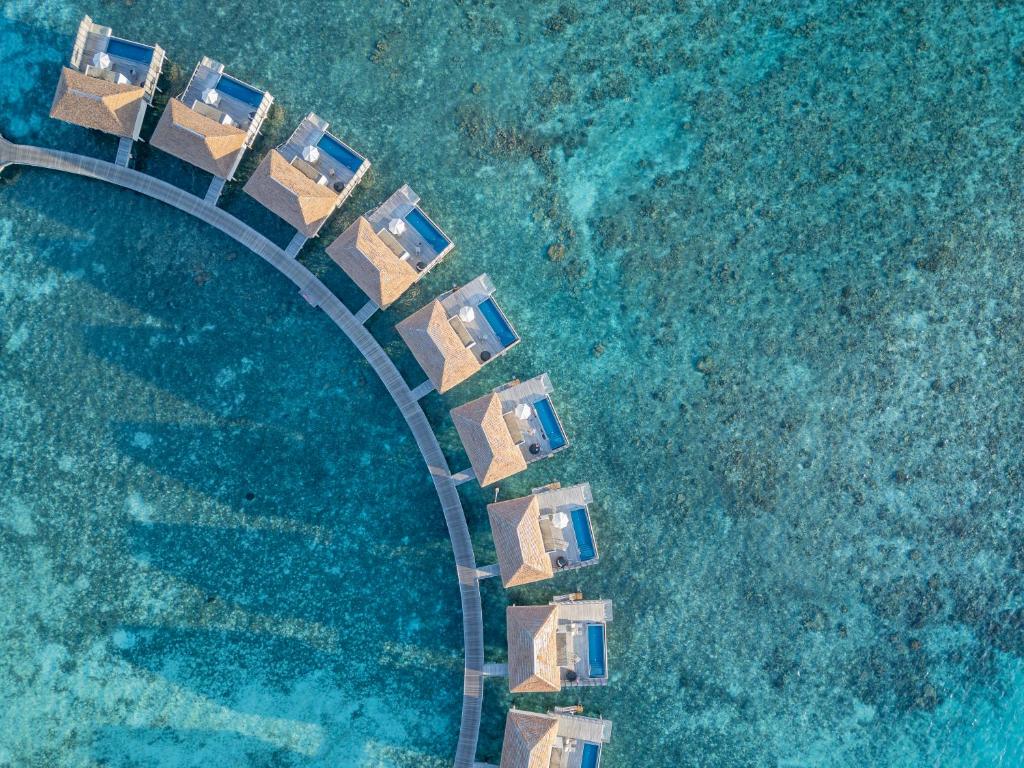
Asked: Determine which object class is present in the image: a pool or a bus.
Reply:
pool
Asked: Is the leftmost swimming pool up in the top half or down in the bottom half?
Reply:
top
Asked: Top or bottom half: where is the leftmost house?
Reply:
top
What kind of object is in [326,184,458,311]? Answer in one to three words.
house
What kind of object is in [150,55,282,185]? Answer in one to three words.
house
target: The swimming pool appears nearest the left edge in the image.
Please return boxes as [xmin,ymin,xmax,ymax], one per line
[105,37,165,66]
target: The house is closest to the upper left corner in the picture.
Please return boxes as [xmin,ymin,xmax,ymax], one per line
[51,12,177,146]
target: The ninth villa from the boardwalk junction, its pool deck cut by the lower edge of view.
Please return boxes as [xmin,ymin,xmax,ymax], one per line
[501,694,614,768]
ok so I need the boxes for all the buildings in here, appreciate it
[487,481,603,588]
[450,372,574,487]
[508,590,615,692]
[326,184,458,311]
[51,12,177,146]
[150,55,282,185]
[243,111,377,242]
[396,272,525,395]
[501,694,614,768]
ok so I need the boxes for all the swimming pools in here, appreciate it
[403,206,453,257]
[532,394,570,453]
[105,37,165,66]
[578,738,600,768]
[315,131,366,179]
[215,73,270,114]
[586,621,606,679]
[476,294,521,350]
[568,504,598,563]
